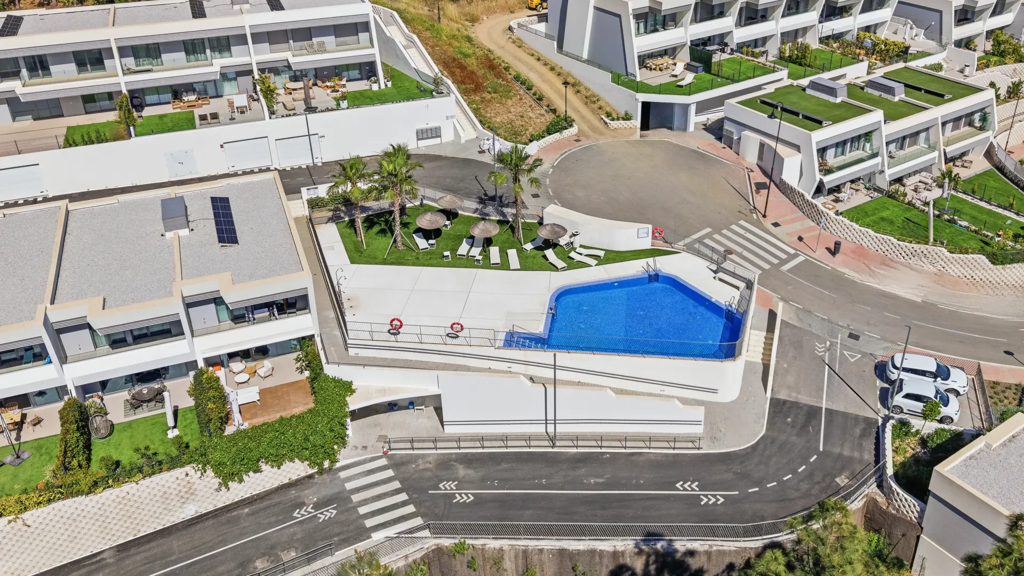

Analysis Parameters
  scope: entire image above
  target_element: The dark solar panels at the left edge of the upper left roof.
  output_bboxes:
[0,11,22,37]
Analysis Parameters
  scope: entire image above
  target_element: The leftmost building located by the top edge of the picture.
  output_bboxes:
[0,5,122,122]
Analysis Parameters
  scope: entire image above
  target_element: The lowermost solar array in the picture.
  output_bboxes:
[217,192,240,246]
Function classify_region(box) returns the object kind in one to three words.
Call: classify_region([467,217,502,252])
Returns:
umbrella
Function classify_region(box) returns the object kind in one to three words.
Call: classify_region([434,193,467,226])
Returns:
umbrella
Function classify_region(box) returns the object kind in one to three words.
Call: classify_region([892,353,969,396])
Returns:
car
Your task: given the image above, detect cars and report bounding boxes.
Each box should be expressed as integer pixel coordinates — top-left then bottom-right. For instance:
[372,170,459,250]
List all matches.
[894,386,961,428]
[892,353,969,396]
